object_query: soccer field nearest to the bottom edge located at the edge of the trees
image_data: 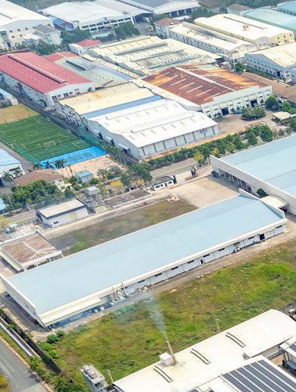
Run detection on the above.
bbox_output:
[0,114,92,160]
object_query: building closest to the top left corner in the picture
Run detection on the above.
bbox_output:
[0,9,54,45]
